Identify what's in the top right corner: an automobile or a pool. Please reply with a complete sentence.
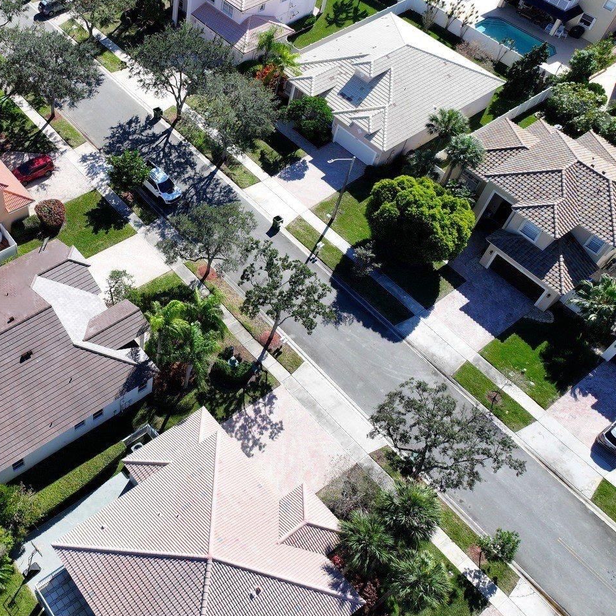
Visible in the top right corner is a pool.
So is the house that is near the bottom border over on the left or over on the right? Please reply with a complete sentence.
The house that is near the bottom border sits on the left side.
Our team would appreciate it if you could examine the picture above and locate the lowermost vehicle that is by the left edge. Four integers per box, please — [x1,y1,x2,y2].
[11,151,60,188]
